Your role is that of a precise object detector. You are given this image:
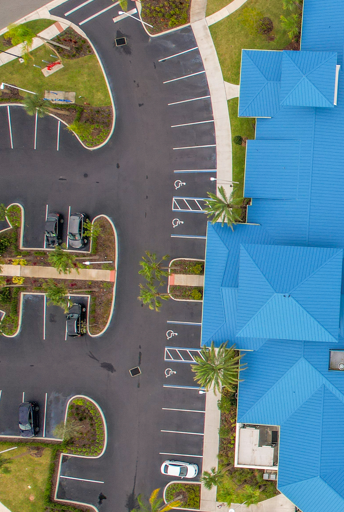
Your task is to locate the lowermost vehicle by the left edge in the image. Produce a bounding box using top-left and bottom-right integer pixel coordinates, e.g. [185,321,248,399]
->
[11,403,34,440]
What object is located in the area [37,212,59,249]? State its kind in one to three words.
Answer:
car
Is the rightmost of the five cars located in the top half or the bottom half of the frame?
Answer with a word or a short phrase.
bottom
